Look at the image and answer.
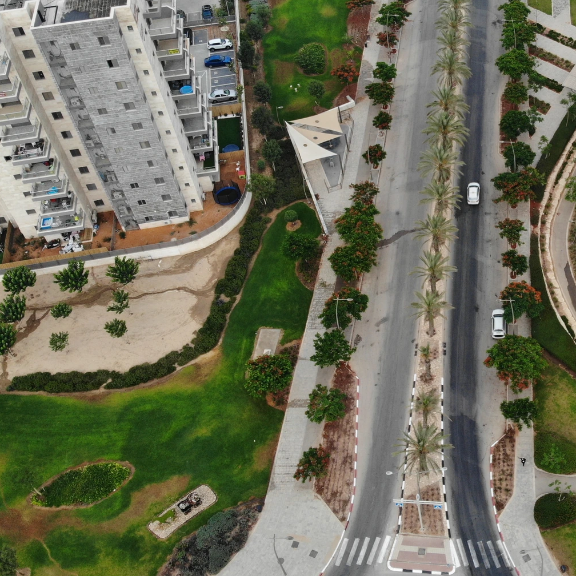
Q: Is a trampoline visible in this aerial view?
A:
Yes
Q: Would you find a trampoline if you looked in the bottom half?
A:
No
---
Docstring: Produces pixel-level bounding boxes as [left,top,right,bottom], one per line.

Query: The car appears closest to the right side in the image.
[490,310,507,339]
